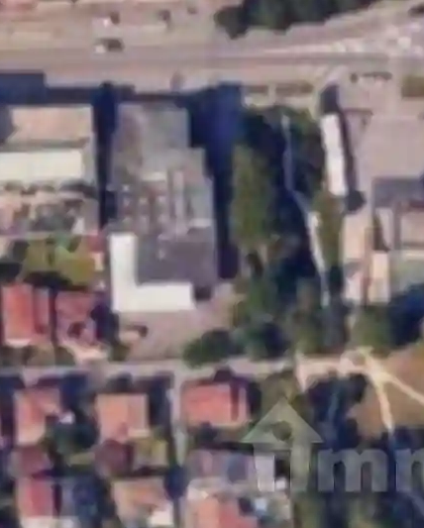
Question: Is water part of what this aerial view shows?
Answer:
No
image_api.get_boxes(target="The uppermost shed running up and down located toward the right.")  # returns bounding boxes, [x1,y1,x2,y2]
[323,85,349,201]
